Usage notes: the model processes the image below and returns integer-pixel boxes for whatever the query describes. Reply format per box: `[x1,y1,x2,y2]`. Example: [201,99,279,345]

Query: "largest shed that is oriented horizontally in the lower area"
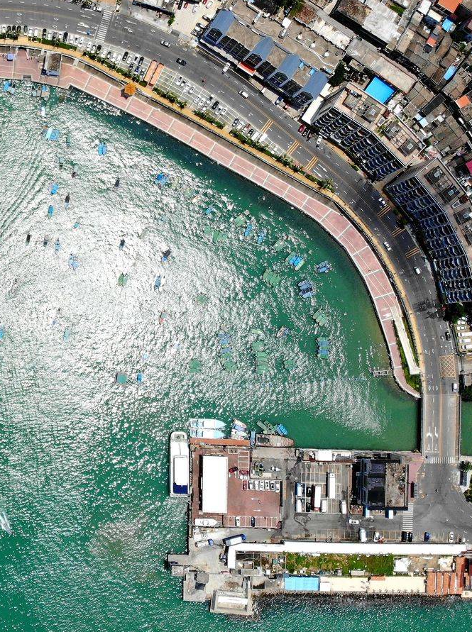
[281,538,468,556]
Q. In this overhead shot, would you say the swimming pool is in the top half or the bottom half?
top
